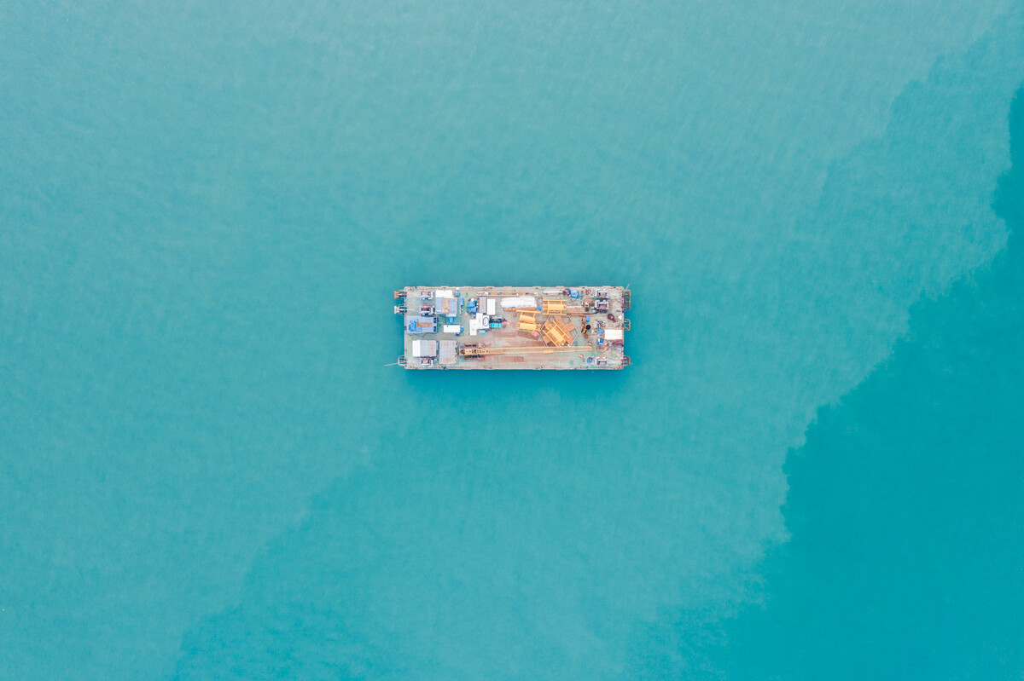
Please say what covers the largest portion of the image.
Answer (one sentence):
The bulk of the photo consists of water.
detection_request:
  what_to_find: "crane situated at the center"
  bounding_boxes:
[459,342,592,360]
